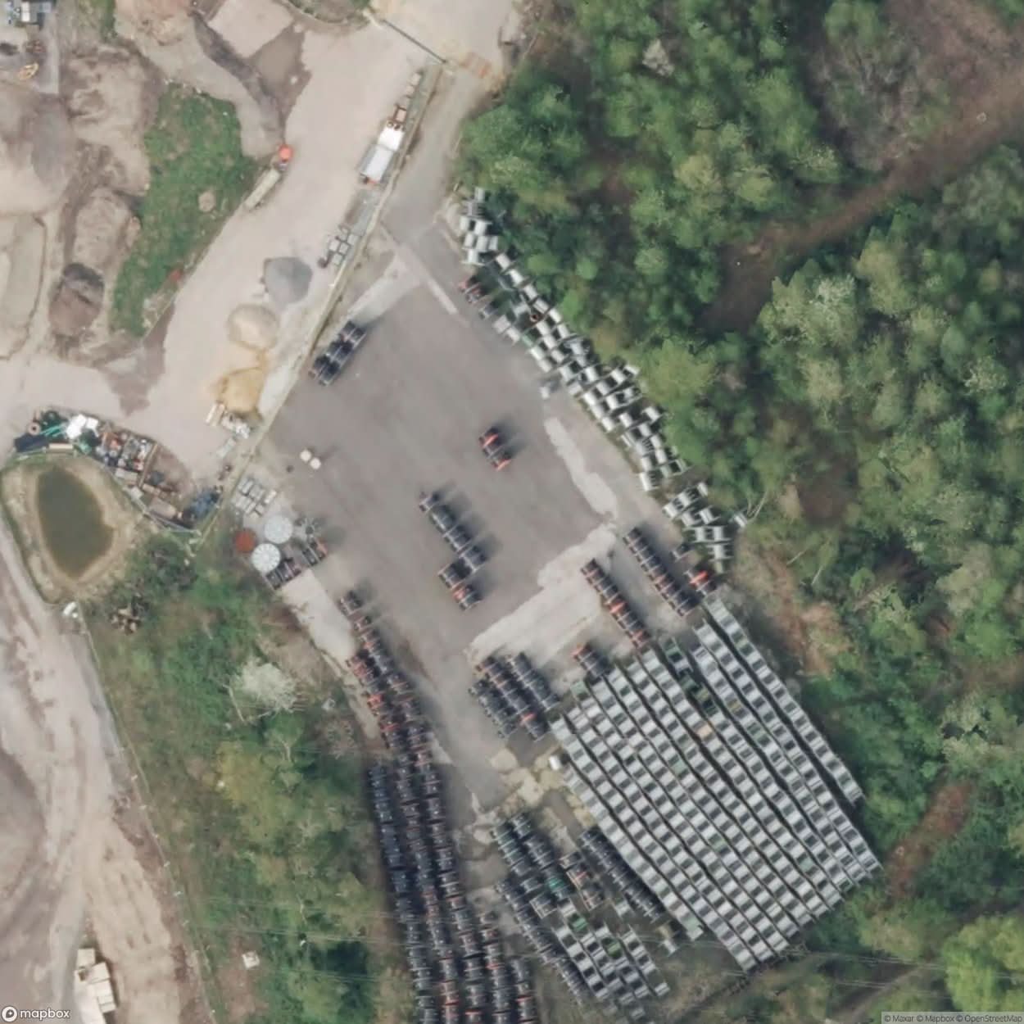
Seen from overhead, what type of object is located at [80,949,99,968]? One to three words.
building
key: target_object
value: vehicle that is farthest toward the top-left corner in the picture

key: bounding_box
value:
[18,63,38,80]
